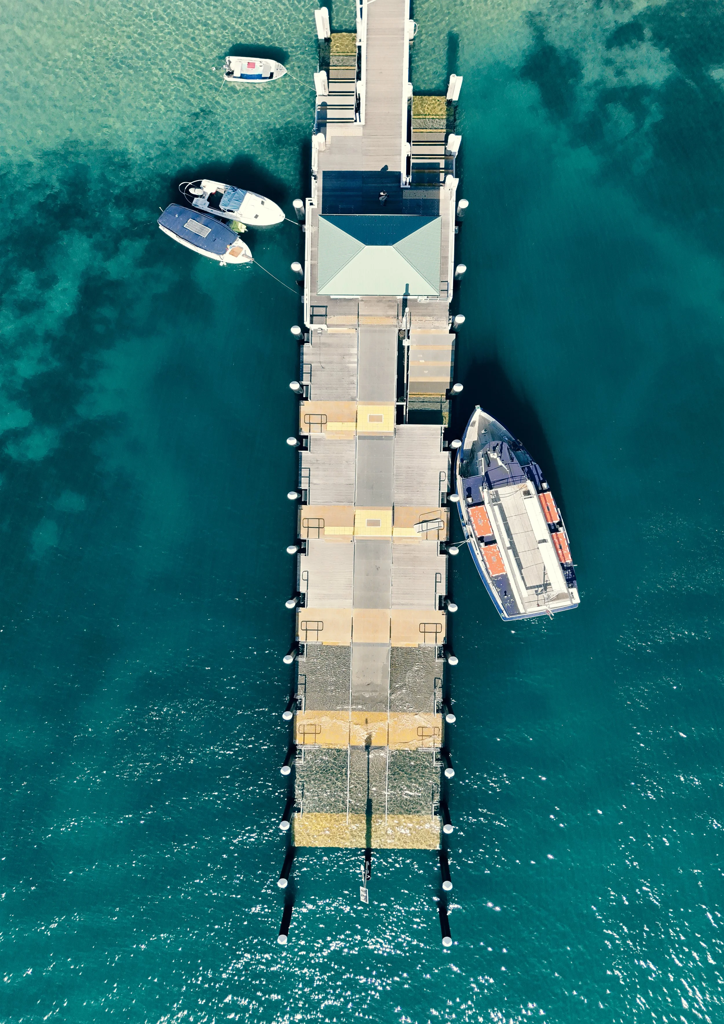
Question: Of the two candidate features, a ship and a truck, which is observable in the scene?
ship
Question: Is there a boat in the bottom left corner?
No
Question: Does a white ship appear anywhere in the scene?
Yes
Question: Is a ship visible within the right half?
Yes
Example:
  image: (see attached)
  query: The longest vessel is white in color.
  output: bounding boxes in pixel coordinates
[454,405,580,621]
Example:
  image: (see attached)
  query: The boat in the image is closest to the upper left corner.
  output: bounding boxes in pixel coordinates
[213,56,286,85]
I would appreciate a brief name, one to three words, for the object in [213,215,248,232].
boat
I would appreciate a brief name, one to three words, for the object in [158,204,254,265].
boat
